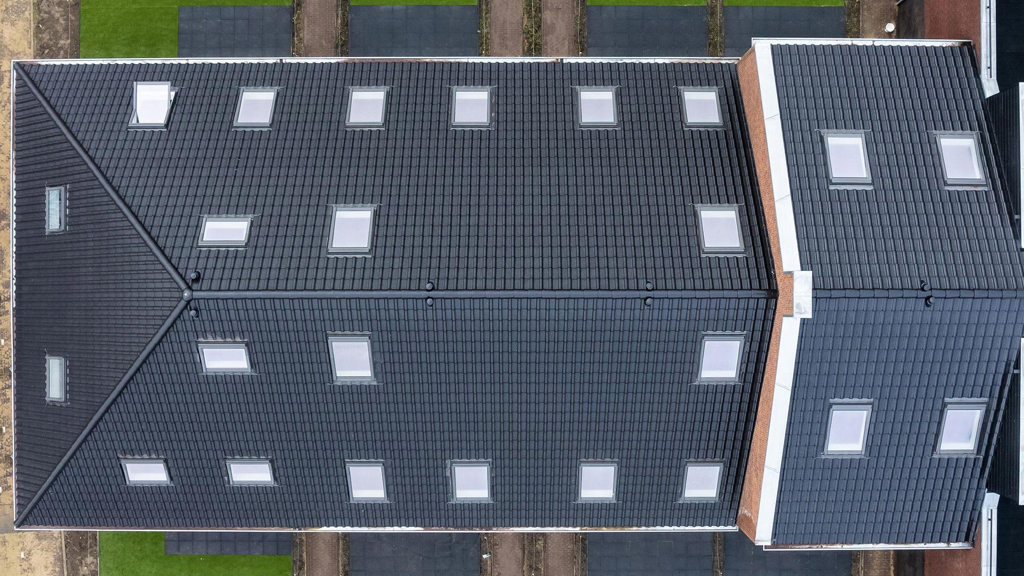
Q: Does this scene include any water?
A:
No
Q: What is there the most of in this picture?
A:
buildings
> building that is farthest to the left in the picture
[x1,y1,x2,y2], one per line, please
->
[10,57,778,531]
